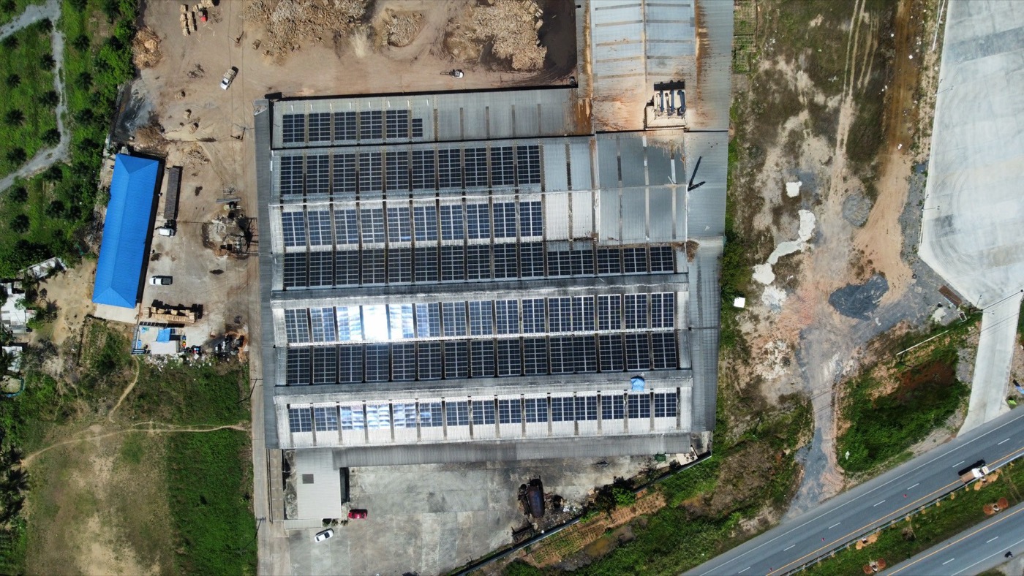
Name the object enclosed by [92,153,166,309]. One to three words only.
shed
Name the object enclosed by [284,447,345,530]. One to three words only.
building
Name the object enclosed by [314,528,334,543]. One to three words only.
car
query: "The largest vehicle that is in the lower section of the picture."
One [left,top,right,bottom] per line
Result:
[957,465,989,487]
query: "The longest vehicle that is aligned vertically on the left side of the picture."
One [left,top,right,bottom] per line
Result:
[157,159,182,232]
